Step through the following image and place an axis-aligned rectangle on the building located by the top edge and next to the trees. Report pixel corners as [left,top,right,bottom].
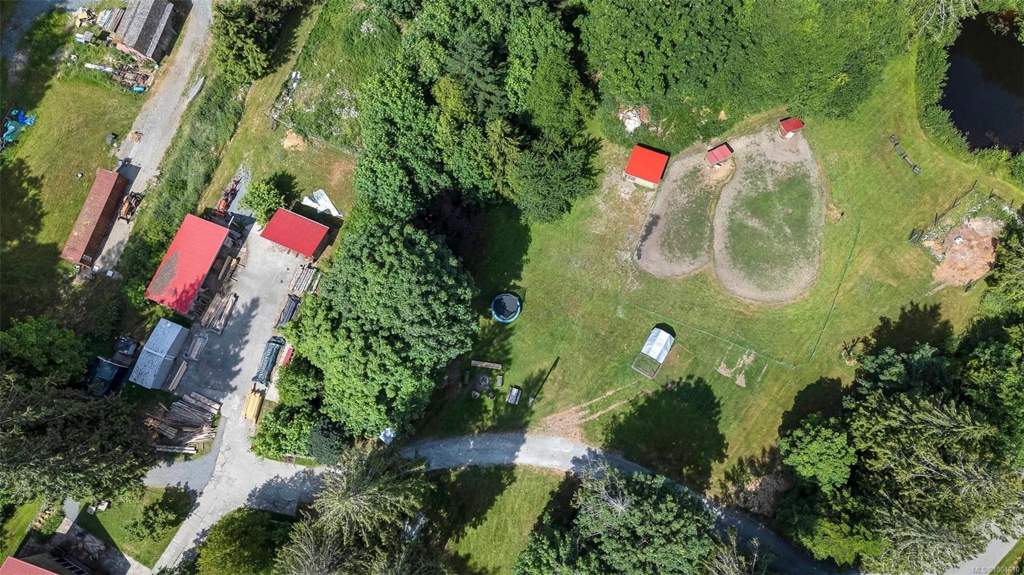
[114,0,193,71]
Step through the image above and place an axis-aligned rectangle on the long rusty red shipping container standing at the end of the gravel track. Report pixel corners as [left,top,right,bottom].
[62,167,129,265]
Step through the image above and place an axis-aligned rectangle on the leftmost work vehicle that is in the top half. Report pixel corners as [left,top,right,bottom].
[118,191,140,225]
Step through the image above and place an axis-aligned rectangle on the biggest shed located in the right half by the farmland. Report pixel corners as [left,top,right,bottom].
[624,144,670,185]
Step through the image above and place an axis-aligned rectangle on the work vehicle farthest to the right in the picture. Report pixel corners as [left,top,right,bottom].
[214,175,232,215]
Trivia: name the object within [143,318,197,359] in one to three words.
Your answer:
shed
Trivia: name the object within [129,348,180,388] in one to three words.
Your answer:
shed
